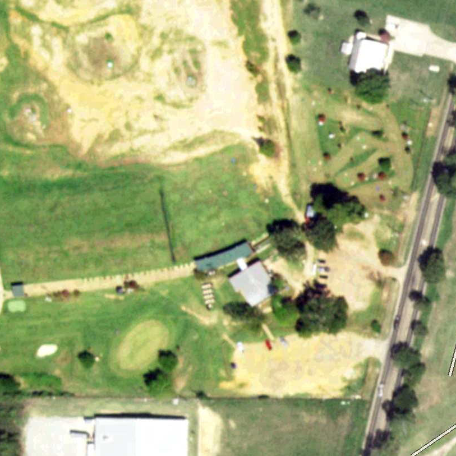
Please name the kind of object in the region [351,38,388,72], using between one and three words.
house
